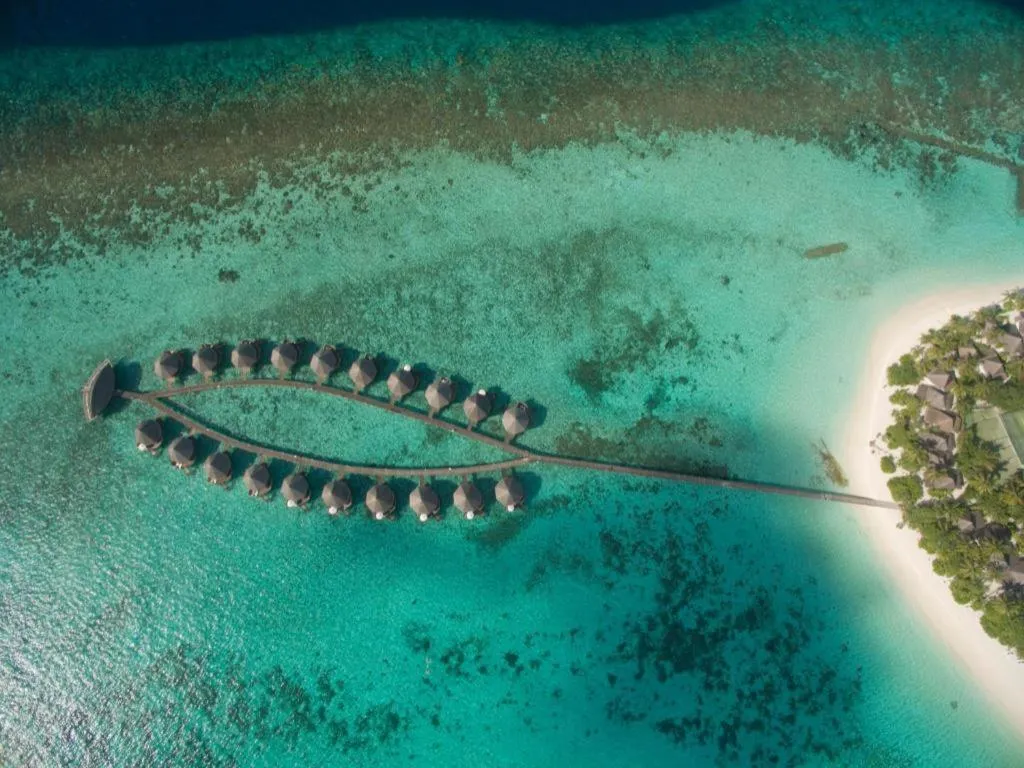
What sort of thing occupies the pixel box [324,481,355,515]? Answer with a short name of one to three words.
house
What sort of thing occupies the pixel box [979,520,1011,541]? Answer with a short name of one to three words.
house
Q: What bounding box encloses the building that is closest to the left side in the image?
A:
[80,358,116,421]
